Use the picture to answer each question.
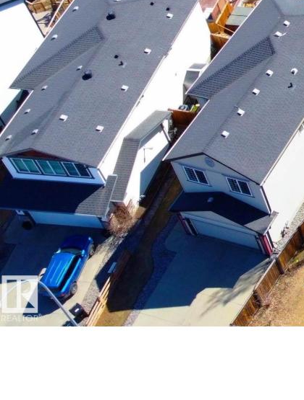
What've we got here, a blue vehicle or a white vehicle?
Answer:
blue vehicle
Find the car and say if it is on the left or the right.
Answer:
left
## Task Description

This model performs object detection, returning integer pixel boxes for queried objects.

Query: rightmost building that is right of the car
[160,0,304,260]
